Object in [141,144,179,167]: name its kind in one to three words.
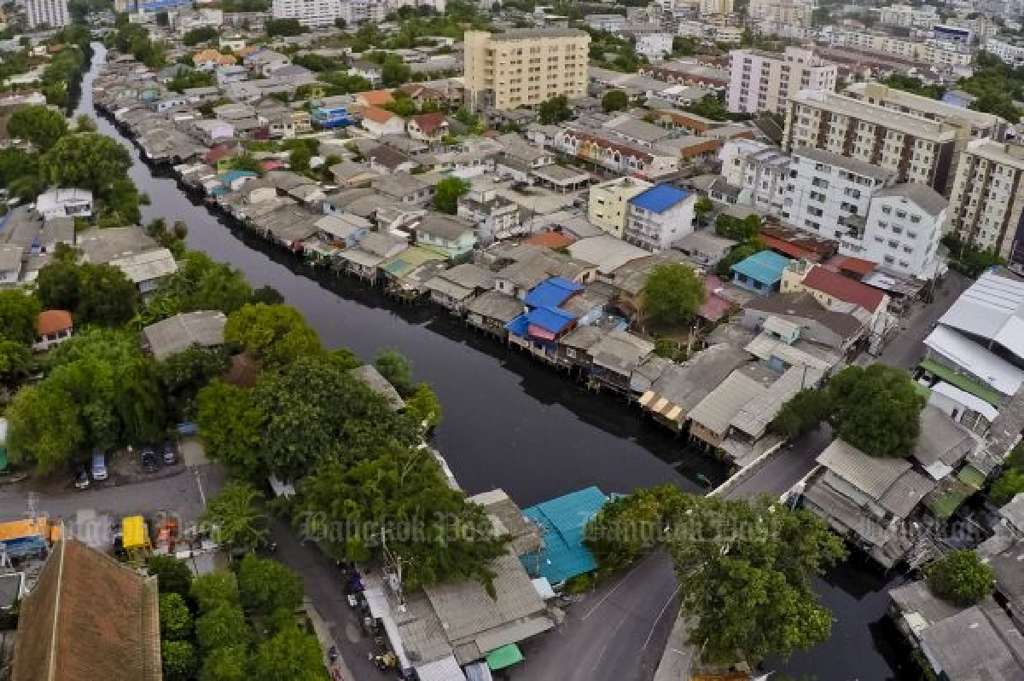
house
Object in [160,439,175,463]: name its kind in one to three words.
car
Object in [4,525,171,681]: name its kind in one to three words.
building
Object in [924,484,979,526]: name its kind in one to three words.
shed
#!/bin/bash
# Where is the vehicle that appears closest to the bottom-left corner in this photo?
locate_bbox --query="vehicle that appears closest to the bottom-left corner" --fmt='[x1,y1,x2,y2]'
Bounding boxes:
[116,516,144,556]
